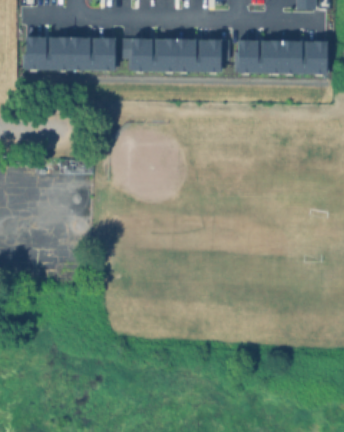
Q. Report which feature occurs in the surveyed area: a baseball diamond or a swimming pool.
baseball diamond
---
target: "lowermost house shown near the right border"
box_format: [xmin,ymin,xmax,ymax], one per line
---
[236,40,328,78]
